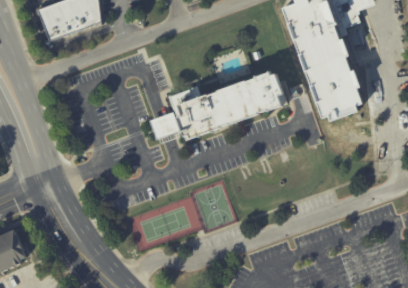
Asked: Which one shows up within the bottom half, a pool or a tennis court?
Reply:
tennis court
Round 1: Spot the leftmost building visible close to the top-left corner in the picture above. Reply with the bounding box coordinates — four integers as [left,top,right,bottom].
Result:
[39,0,101,40]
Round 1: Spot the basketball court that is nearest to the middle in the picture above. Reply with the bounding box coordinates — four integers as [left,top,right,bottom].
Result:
[193,182,238,232]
